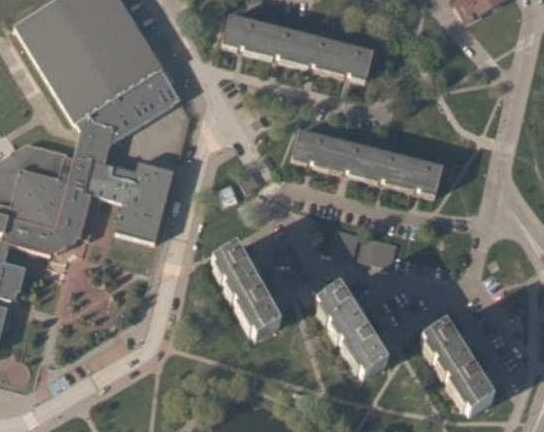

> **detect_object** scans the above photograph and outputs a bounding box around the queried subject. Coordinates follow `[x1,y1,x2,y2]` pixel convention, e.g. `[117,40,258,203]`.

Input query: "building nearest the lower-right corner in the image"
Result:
[417,315,495,419]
